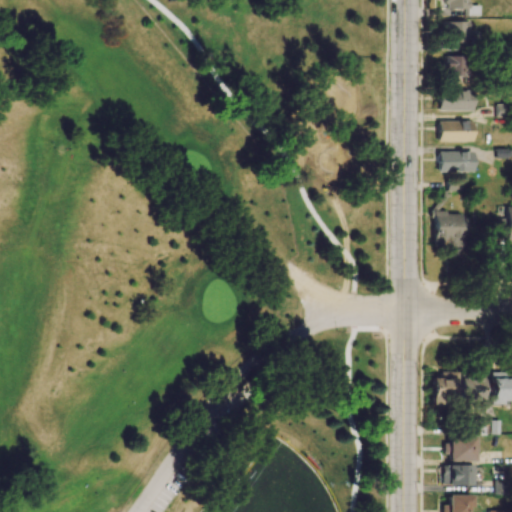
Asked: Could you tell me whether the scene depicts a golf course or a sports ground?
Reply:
golf course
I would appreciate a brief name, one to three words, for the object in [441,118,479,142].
house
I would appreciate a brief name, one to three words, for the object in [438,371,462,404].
house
